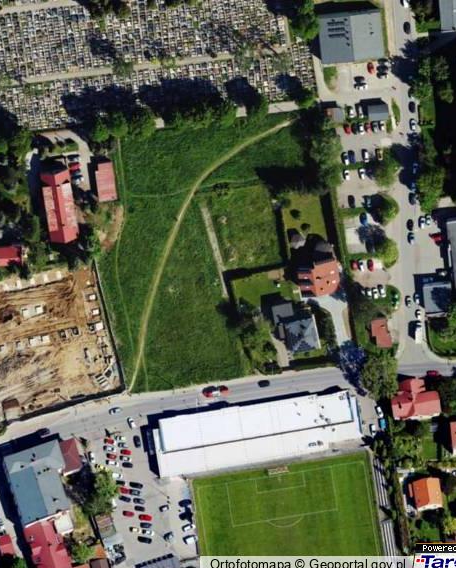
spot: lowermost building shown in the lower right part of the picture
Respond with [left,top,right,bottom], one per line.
[409,479,443,507]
